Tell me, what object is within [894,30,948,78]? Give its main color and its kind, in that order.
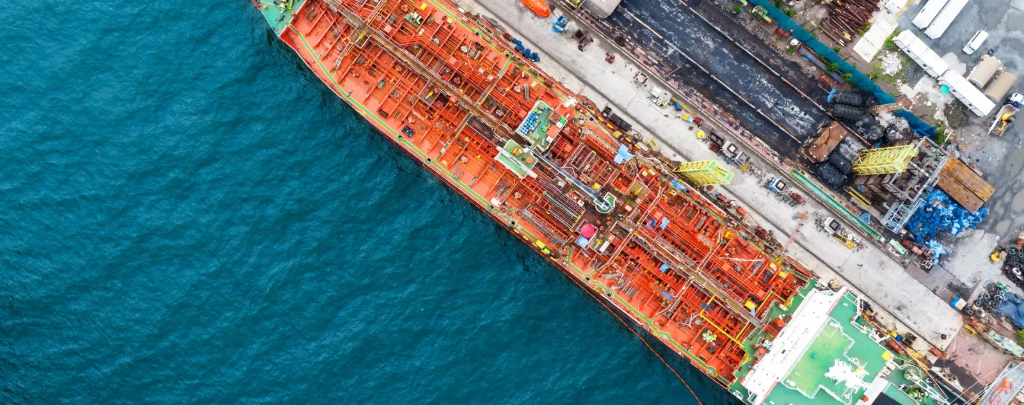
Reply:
white trailer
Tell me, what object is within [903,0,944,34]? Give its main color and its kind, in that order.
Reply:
white trailer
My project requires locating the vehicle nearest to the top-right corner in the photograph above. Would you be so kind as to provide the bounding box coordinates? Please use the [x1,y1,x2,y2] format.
[960,30,988,56]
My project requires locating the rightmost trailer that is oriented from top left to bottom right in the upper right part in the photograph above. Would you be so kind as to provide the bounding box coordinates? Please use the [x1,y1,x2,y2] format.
[940,71,995,117]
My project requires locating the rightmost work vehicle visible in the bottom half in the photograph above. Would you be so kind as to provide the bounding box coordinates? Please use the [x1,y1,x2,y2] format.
[991,248,1008,263]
